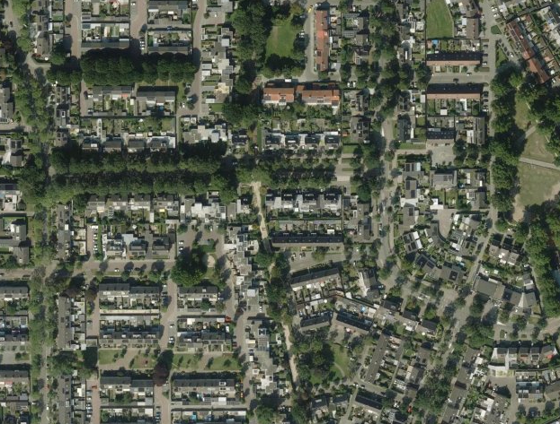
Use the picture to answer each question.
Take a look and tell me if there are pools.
No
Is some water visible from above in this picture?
No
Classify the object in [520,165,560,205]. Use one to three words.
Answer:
sports field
